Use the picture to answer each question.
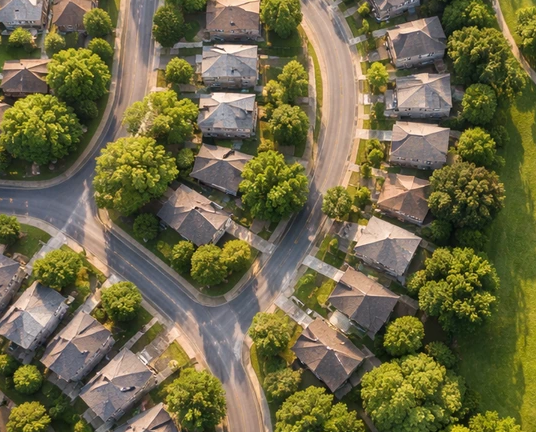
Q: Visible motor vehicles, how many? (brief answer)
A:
zero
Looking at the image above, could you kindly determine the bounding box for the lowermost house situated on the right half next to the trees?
[290,318,364,389]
